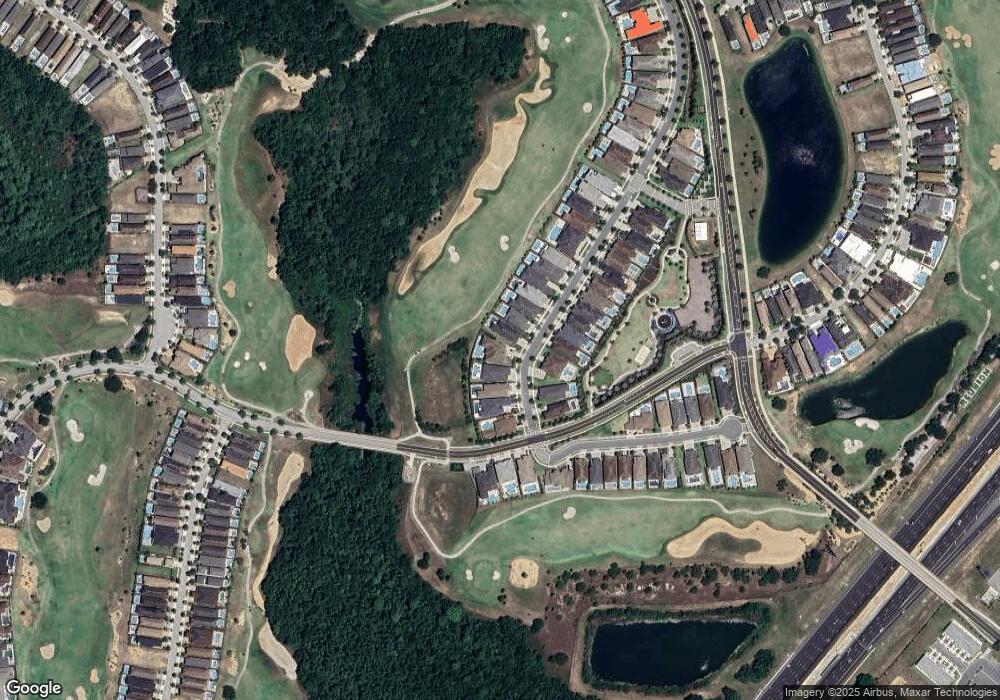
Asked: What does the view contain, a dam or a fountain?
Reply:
fountain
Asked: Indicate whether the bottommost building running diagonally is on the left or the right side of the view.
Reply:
right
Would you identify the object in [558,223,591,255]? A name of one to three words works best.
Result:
house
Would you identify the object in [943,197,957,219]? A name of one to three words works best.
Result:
swimming pool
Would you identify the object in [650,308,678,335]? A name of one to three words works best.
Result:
fountain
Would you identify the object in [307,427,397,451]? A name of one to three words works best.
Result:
bridge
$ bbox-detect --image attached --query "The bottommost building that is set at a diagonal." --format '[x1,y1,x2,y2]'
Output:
[915,654,958,690]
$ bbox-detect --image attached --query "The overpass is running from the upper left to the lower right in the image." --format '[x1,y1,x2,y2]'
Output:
[855,516,960,607]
